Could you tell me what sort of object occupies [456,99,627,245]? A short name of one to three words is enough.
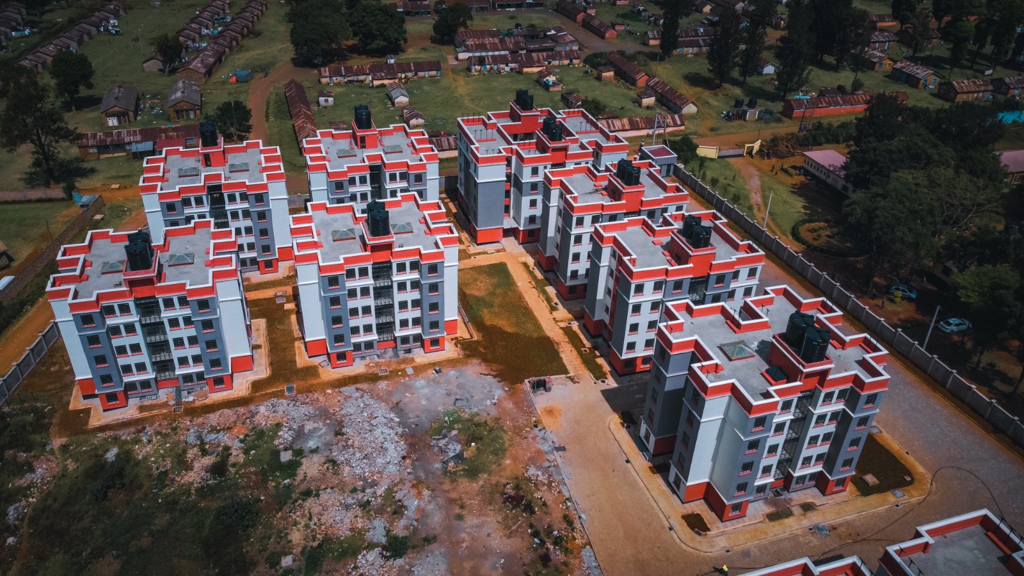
building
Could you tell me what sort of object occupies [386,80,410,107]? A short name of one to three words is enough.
shed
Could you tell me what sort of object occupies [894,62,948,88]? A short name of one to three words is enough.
house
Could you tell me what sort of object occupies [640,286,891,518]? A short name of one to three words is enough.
building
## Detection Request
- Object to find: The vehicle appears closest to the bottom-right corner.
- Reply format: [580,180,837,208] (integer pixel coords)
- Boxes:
[940,317,968,332]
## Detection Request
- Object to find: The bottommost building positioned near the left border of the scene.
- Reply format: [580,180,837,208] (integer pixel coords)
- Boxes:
[46,218,255,411]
